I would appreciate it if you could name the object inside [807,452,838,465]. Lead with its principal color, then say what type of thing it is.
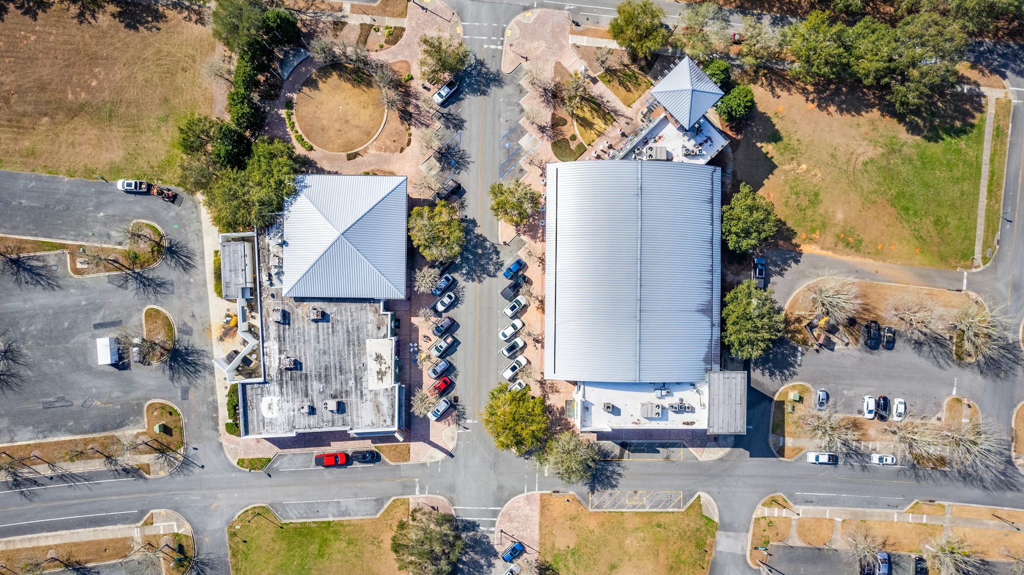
white vehicle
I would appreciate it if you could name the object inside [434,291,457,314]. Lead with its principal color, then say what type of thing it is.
white car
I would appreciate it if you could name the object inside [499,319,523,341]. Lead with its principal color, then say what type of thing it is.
white car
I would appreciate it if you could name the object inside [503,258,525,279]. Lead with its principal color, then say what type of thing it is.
blue car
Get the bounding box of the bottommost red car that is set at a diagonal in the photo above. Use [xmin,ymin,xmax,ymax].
[430,376,451,397]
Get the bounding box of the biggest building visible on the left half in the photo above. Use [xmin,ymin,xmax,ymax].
[238,175,408,438]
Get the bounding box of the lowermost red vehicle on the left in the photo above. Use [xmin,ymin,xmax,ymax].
[314,453,348,467]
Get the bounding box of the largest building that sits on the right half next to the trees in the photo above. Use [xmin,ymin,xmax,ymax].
[544,160,721,384]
